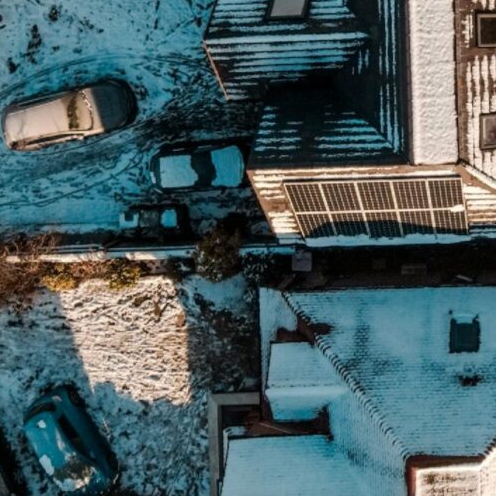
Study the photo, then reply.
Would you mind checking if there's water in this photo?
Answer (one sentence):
No, there's no water in this view.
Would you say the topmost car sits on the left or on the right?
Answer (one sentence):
The topmost car is on the left side of the image.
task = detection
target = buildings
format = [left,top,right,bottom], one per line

[199,0,496,245]
[219,246,496,496]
